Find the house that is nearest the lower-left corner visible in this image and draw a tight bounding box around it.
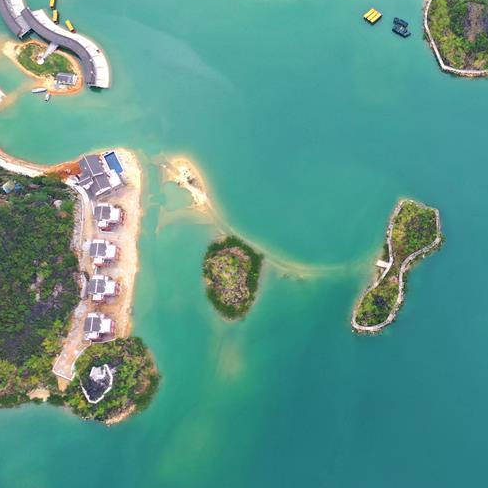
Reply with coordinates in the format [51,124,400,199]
[84,313,119,340]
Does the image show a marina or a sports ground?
marina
